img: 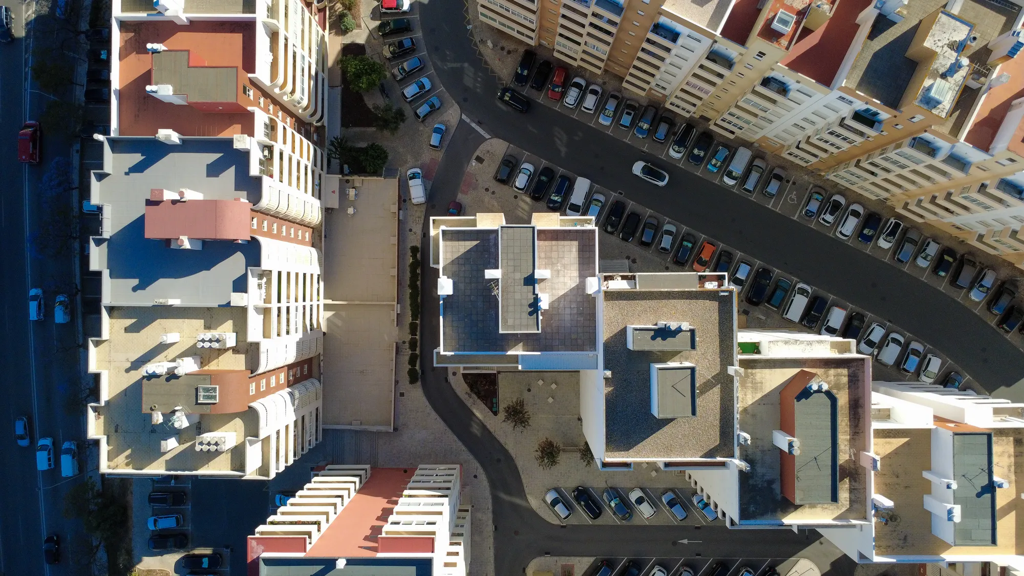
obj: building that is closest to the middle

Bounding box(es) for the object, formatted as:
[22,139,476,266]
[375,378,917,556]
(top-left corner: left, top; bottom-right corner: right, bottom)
[431,213,598,369]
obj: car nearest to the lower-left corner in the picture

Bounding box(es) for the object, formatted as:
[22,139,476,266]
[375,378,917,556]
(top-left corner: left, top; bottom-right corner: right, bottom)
[42,533,62,565]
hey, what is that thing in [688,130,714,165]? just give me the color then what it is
black car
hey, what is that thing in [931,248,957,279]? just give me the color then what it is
black car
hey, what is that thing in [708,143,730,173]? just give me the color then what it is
blue car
